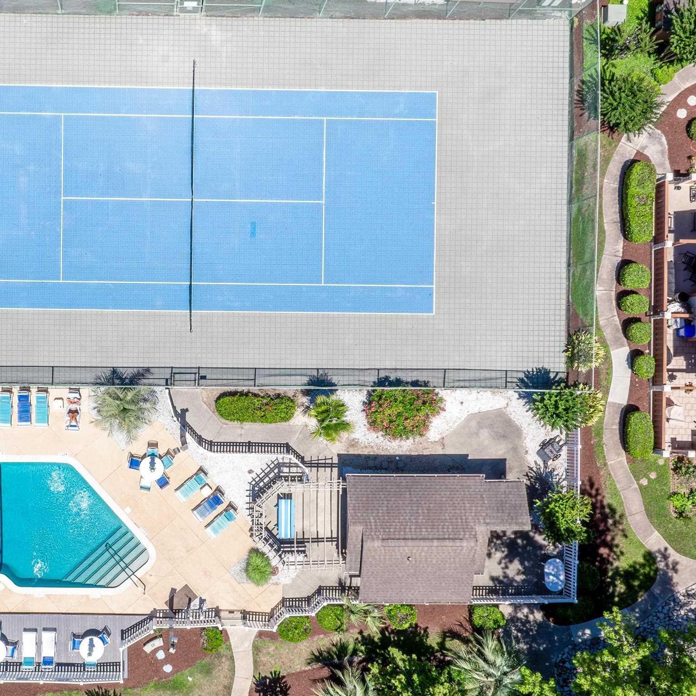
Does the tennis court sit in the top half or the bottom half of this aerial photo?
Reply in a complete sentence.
You can find the tennis court in the top half.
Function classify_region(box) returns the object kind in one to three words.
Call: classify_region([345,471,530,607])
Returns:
building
